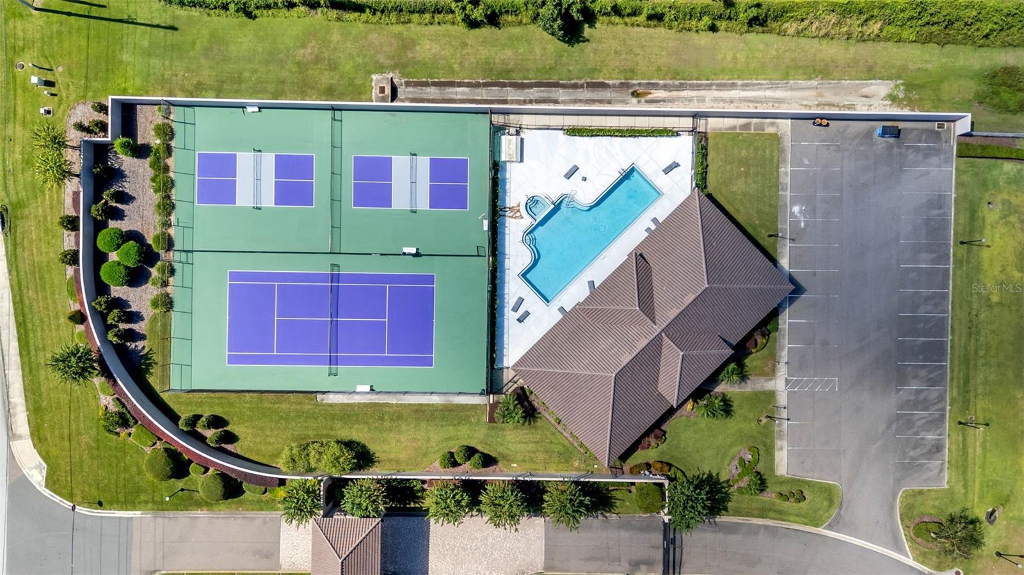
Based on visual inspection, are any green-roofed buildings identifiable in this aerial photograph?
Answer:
No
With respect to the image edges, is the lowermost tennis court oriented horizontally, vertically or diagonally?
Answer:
horizontally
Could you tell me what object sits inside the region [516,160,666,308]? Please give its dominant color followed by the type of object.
blue swimming pool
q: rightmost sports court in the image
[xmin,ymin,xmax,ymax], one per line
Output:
[352,155,469,210]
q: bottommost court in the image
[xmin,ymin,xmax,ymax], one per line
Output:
[226,271,436,367]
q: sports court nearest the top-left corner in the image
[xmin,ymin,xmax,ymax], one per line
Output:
[196,152,315,207]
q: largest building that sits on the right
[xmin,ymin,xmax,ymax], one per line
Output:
[511,189,795,467]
